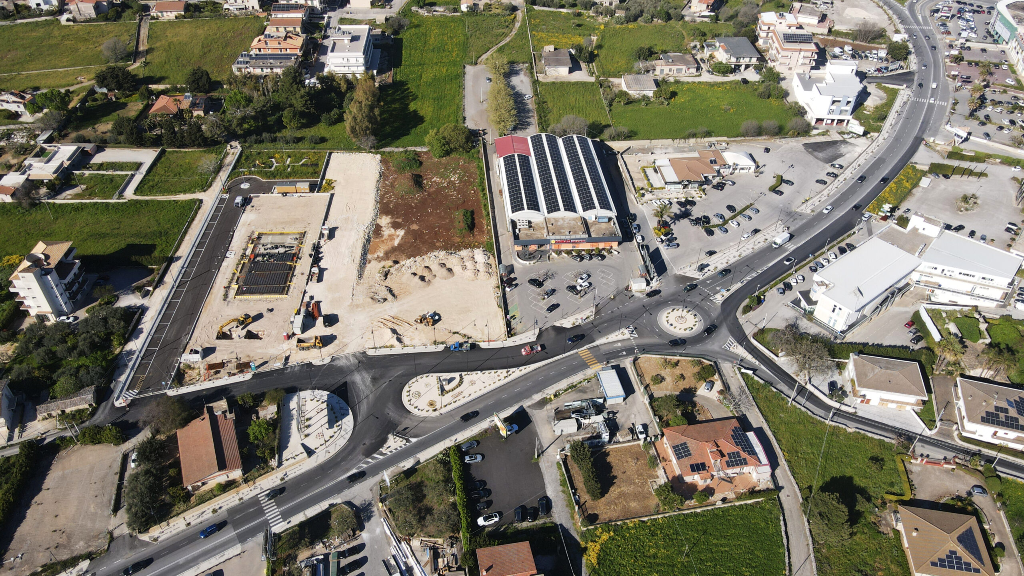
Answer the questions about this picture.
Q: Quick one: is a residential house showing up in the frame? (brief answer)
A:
Yes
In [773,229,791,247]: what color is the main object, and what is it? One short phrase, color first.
white vehicle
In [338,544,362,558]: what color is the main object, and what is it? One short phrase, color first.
black car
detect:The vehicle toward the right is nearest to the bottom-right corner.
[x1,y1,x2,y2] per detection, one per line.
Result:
[968,485,991,499]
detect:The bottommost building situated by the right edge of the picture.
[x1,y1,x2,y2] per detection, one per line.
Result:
[894,505,996,576]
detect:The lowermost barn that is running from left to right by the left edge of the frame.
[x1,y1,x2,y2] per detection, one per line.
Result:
[37,387,99,423]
